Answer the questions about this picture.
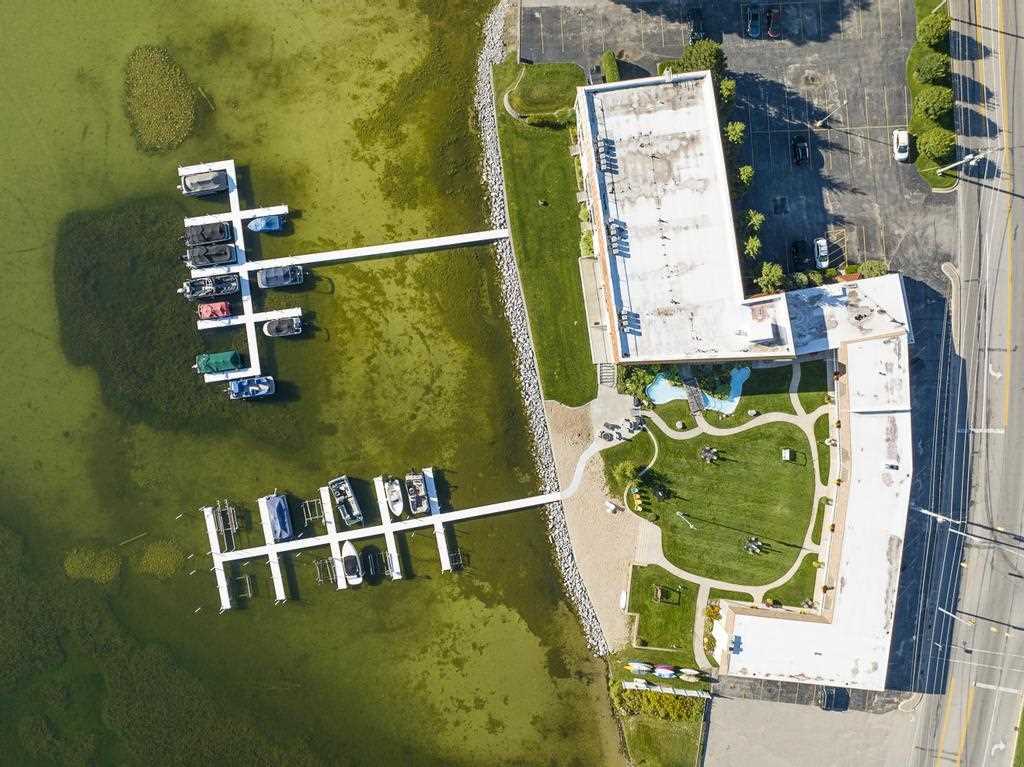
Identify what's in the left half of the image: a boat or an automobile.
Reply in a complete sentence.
There is a boat in the left half of the image.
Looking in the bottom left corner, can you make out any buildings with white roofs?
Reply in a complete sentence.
No, no building with a white roof can be made out in the bottom left corner.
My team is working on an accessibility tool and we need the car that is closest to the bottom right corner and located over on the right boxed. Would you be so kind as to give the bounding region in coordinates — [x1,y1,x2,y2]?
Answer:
[821,684,838,711]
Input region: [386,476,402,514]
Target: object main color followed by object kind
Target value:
white boat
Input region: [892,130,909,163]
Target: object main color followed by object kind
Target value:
white car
